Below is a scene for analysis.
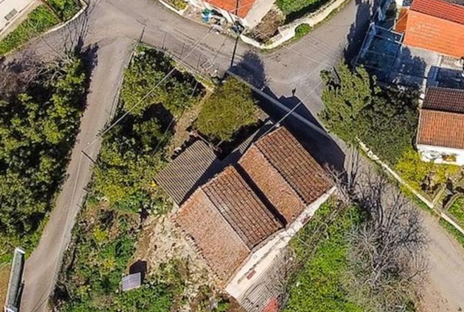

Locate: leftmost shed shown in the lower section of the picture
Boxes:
[122,272,148,293]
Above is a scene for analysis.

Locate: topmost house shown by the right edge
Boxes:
[405,0,464,63]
